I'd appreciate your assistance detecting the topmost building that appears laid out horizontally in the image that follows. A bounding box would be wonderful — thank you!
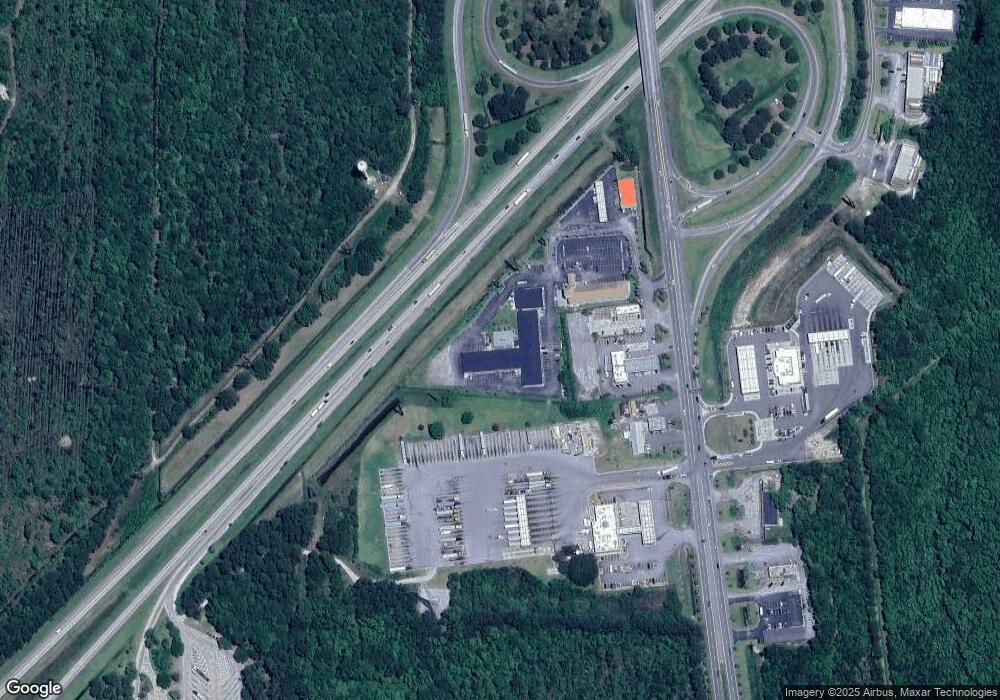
[901,7,953,32]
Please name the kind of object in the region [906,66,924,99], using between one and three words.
building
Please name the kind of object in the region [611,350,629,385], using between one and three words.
building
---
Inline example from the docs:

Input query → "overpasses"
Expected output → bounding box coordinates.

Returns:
[636,0,662,102]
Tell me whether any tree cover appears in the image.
Yes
